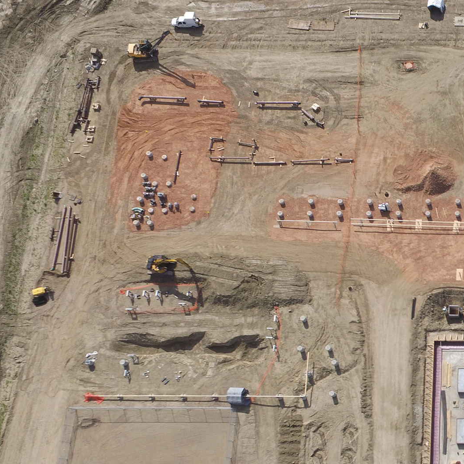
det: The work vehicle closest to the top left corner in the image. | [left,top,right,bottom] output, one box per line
[126,24,174,62]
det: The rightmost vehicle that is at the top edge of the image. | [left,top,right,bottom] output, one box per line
[171,14,204,31]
